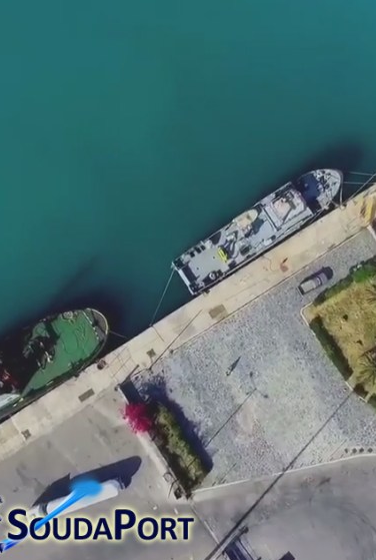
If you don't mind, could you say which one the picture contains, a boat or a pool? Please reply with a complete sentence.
It is a boat that can be seen here.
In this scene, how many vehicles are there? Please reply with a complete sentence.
In total, there are 2 vehicles in the scene.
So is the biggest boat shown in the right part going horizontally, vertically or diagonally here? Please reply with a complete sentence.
Seen from above, the biggest boat shown in the right part lies diagonally.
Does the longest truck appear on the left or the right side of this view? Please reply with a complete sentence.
It is on the left.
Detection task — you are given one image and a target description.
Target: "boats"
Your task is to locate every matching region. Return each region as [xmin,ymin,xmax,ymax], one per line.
[171,165,343,295]
[0,306,113,424]
[231,209,257,227]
